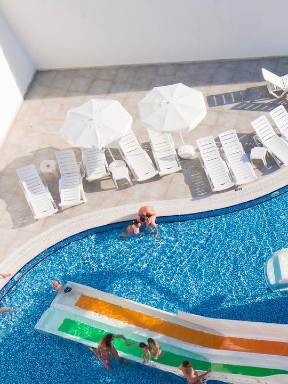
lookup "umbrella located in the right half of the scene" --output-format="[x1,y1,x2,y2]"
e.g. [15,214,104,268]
[142,88,209,162]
